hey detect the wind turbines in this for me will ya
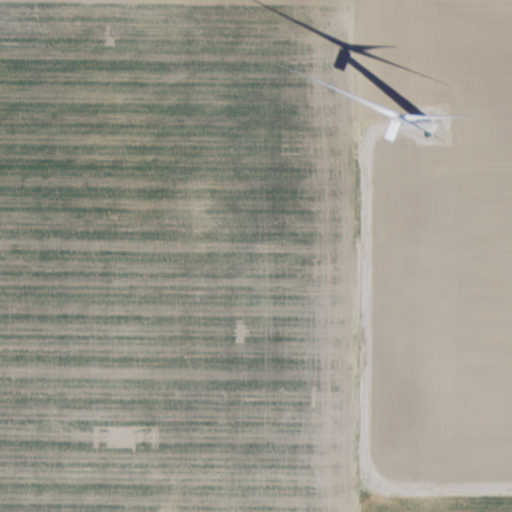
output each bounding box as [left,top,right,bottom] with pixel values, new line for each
[272,55,475,148]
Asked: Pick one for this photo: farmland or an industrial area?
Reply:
farmland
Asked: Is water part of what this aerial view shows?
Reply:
No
